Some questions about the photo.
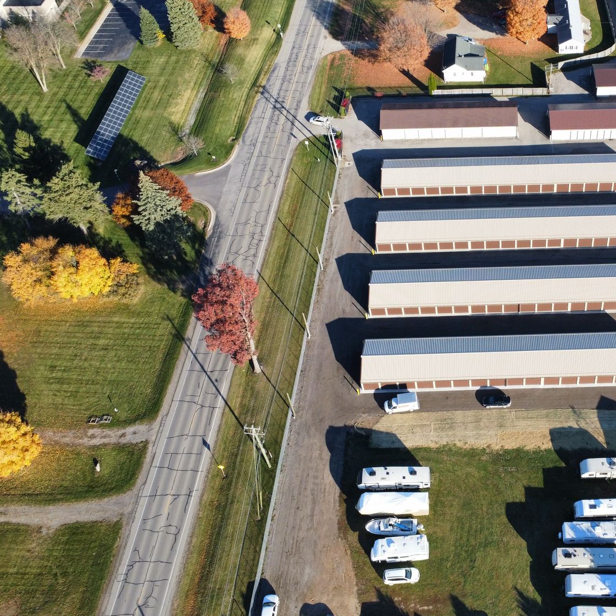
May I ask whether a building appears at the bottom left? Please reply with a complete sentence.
No, the scene shows no building at the bottom left.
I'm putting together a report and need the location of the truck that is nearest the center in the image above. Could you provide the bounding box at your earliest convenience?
[384,392,422,418]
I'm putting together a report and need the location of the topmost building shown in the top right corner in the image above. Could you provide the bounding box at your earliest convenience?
[541,0,584,54]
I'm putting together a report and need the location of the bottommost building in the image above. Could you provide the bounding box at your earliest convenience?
[360,333,616,397]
